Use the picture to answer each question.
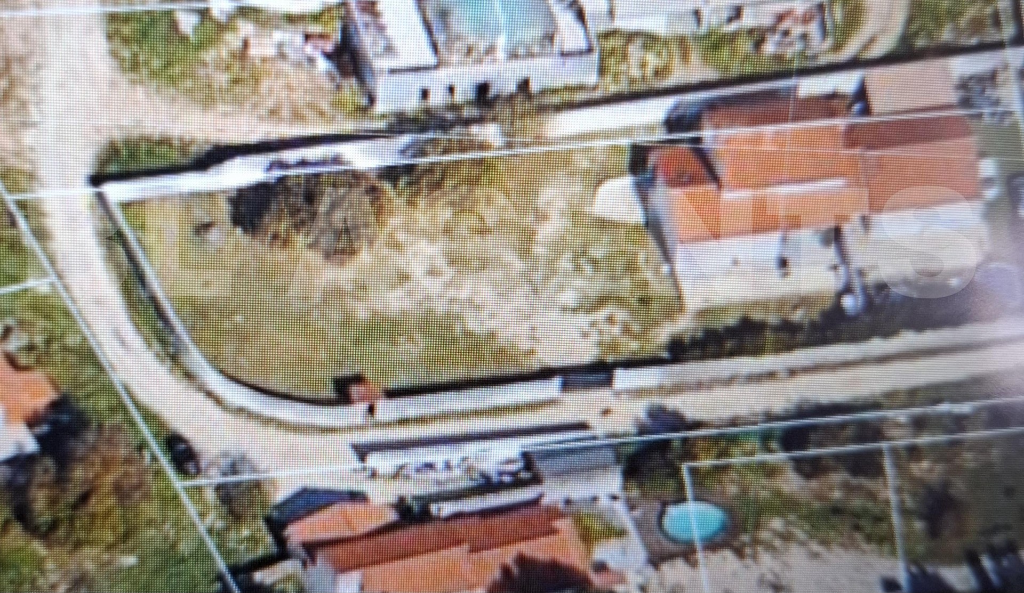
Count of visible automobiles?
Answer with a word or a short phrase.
1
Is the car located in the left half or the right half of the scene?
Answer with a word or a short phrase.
left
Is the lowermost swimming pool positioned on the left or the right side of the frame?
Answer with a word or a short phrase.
right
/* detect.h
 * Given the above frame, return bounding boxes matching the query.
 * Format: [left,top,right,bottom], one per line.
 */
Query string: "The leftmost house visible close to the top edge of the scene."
[338,0,593,110]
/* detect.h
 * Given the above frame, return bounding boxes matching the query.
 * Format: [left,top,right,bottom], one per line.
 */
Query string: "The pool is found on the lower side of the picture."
[657,498,732,551]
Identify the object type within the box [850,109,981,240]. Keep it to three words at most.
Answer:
house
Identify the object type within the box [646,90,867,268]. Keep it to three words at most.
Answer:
house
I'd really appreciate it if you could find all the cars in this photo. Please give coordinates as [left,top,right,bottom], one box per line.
[160,427,205,480]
